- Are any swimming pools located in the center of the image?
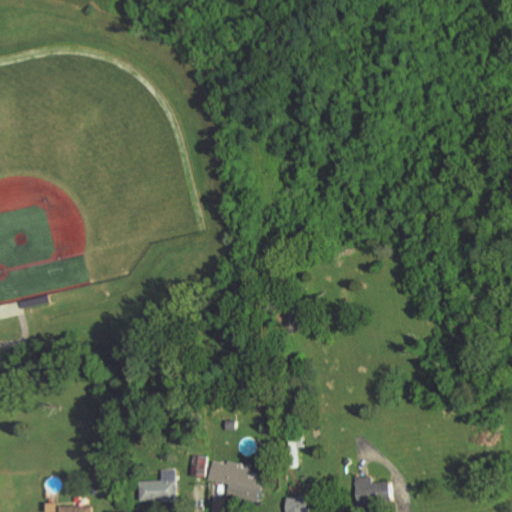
No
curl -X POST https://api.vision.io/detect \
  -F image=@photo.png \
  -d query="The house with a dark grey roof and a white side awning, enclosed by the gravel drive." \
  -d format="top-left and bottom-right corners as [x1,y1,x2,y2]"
[354,476,395,502]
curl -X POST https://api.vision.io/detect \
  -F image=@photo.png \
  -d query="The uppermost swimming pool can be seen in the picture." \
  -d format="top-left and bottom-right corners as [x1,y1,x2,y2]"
[239,436,258,456]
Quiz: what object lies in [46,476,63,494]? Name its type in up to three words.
swimming pool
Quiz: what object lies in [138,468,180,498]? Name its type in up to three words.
house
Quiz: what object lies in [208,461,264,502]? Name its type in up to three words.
house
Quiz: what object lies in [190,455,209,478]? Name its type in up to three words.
shed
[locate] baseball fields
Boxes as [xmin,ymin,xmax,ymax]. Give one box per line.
[0,46,204,304]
